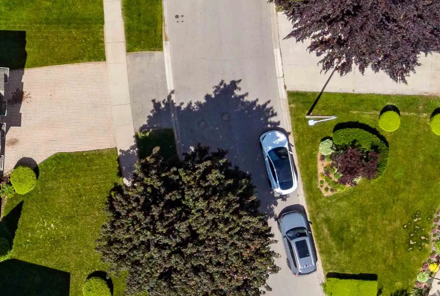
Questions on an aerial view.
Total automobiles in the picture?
two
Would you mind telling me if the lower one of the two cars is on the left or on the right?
right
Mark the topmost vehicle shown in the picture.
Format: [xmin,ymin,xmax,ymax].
[258,129,298,196]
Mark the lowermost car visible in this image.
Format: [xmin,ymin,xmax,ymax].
[277,209,315,275]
